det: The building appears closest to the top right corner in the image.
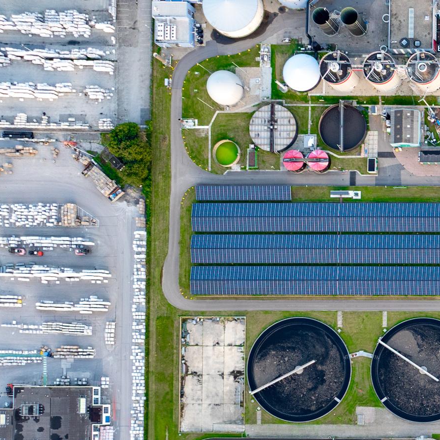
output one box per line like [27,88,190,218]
[390,0,436,54]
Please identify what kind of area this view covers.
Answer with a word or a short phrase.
industrial area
